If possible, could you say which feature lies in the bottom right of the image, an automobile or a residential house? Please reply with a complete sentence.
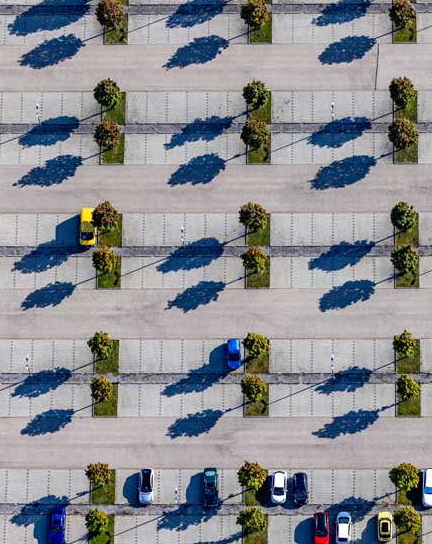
The one visible in the bottom right of the image is an automobile.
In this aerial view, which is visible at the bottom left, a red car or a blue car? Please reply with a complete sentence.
Looking at the bottom left, you will find a blue car.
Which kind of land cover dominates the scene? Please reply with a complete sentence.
The largest share of the image is taken up by paved ground.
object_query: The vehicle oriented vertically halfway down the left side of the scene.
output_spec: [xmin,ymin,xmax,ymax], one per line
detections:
[78,207,96,247]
